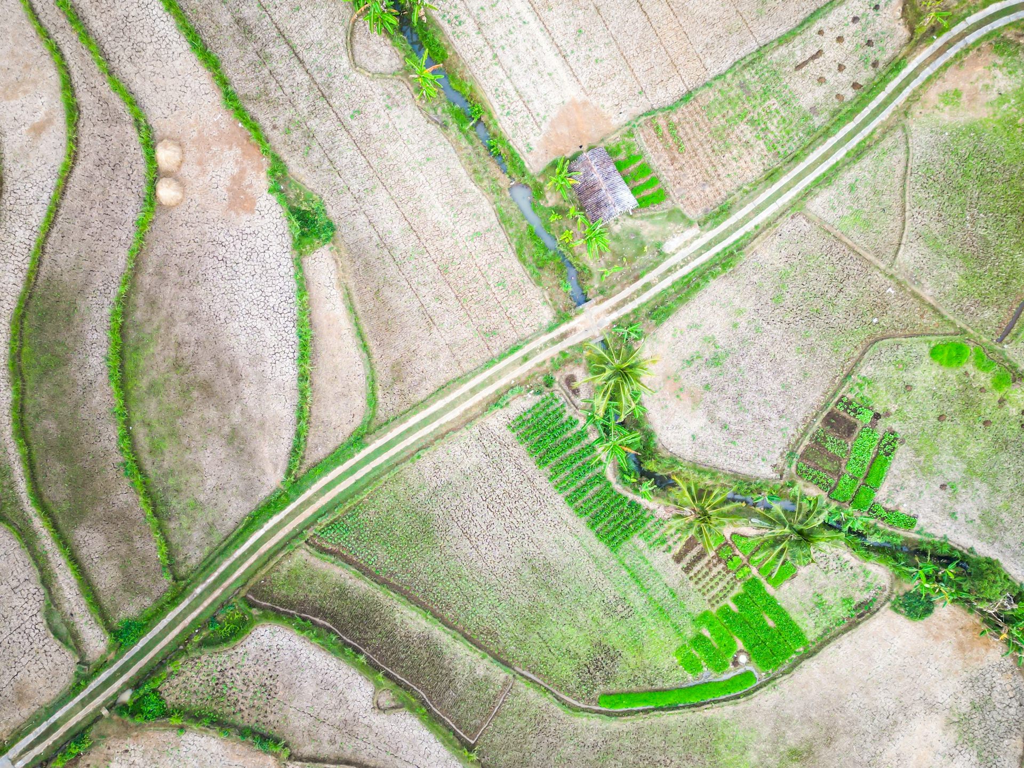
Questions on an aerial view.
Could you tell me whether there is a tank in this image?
No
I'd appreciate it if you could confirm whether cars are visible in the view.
No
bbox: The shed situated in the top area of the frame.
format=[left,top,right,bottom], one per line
[565,146,636,227]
